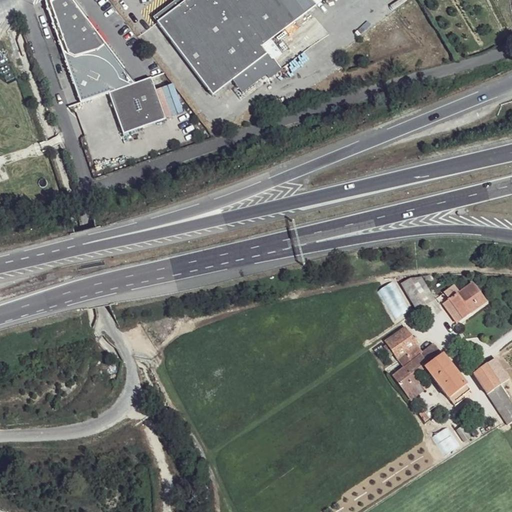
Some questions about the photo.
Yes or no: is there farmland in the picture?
Yes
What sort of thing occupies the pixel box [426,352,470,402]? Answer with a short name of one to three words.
house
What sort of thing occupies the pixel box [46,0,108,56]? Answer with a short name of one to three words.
building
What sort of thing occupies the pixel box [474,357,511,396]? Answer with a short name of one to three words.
barn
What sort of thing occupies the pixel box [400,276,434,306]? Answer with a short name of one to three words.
shed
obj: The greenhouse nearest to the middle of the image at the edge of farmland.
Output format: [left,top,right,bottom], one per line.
[378,281,409,320]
